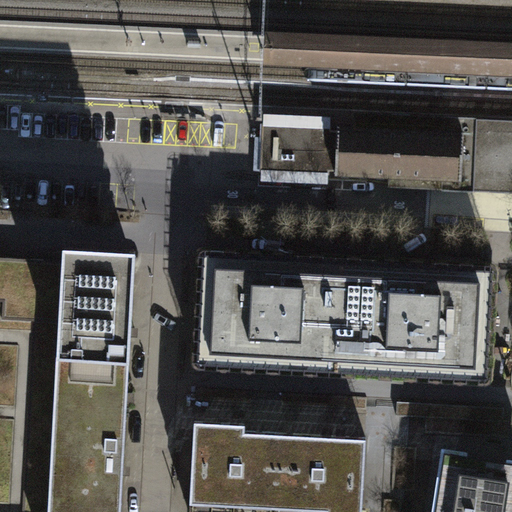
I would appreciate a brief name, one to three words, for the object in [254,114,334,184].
building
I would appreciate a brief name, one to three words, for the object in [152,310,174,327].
car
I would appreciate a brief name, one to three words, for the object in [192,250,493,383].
building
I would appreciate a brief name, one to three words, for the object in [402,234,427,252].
vehicle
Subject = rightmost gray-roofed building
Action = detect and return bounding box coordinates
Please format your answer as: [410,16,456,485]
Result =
[474,118,512,192]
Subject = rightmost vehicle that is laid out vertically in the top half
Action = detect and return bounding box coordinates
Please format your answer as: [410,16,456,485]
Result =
[212,120,224,147]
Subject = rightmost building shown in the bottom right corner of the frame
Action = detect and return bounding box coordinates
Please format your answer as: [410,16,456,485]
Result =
[432,448,512,512]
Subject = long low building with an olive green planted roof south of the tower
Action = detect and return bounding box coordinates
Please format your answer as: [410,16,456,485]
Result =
[47,360,129,512]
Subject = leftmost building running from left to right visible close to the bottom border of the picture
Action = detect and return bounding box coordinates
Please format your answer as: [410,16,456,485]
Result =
[188,424,366,512]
